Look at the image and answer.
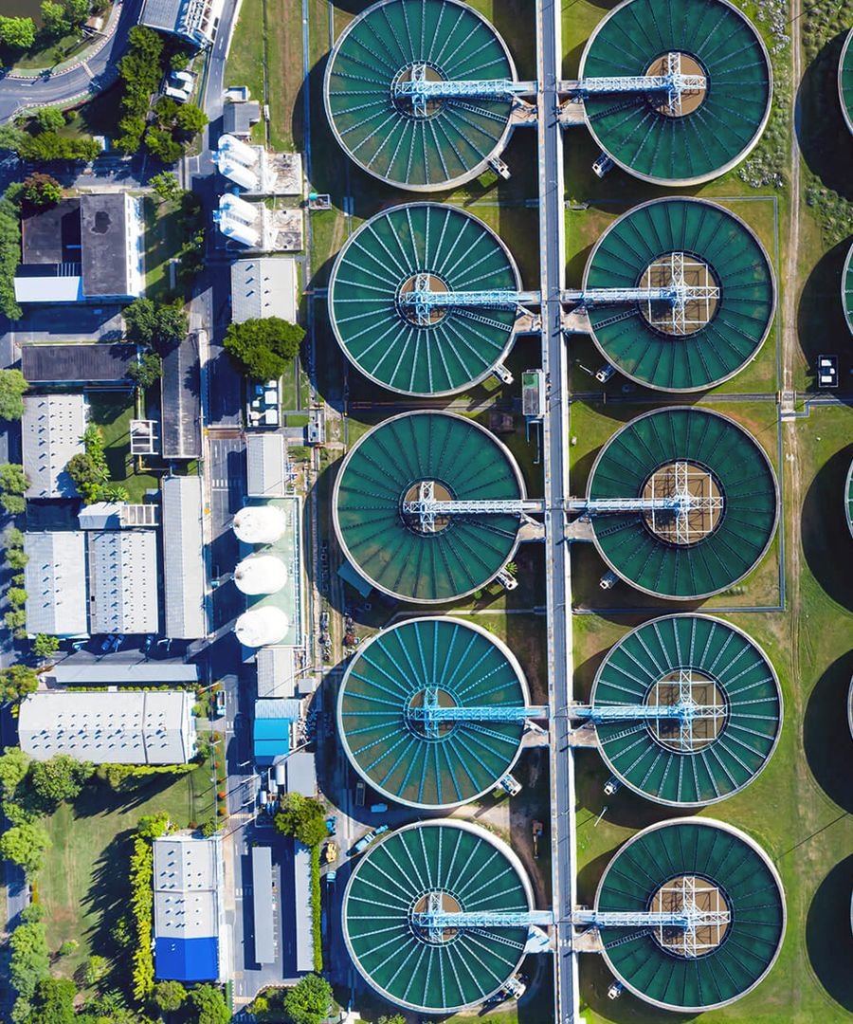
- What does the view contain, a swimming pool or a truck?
truck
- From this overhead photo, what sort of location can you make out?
industrial area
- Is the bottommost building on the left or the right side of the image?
left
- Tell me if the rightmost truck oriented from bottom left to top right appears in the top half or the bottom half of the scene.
bottom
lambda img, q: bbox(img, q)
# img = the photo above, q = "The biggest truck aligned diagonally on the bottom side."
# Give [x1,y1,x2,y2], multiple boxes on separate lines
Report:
[352,821,388,854]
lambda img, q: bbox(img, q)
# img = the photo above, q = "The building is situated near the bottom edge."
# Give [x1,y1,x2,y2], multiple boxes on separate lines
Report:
[154,834,227,982]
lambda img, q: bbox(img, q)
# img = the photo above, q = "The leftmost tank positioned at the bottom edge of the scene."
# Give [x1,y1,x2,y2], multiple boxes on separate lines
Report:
[341,814,551,1013]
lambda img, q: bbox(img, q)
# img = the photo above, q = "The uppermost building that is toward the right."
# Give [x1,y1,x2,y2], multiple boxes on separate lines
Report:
[522,369,546,458]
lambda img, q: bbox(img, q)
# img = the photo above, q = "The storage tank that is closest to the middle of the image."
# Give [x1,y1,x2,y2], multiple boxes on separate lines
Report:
[332,410,544,603]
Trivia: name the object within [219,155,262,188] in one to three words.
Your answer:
silo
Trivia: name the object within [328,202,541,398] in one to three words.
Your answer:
storage tank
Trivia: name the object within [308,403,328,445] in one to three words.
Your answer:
building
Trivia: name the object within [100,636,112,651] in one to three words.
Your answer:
vehicle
